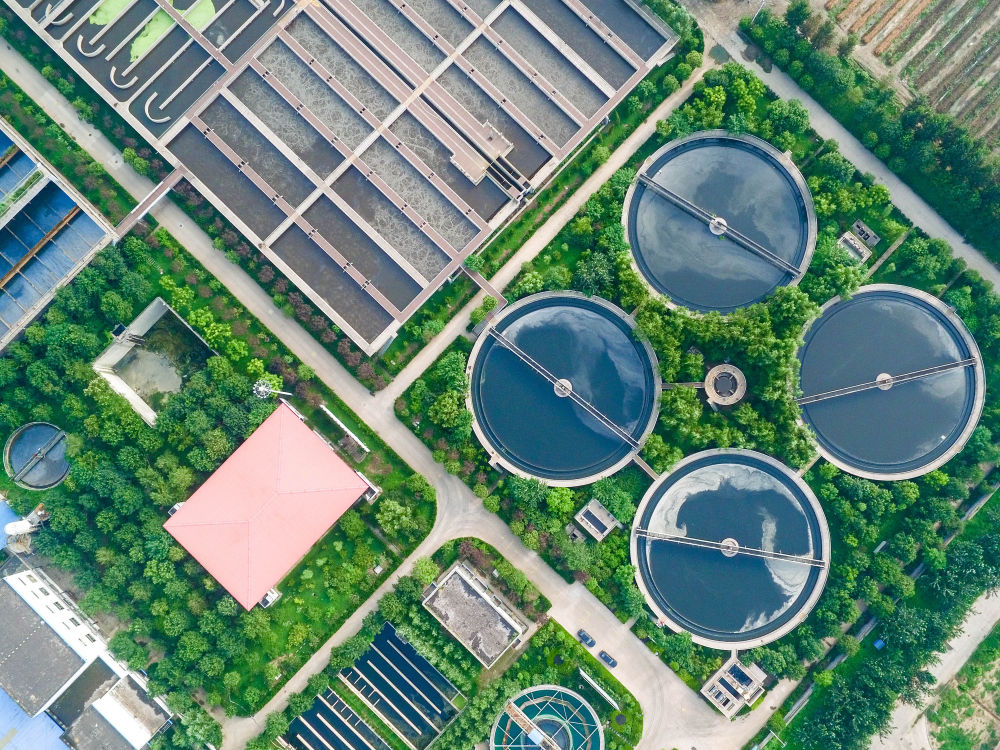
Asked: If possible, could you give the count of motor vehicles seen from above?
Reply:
2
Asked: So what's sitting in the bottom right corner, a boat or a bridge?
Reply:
bridge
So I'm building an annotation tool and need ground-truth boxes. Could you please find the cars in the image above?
[575,627,597,648]
[597,647,619,669]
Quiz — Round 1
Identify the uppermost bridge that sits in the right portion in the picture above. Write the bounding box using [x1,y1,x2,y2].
[637,175,803,275]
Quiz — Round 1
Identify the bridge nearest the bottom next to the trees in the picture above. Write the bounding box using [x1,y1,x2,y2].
[634,528,826,567]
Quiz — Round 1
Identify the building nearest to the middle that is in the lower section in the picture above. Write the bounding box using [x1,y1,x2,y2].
[573,497,624,542]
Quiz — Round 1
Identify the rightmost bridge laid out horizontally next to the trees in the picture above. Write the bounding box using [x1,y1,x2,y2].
[802,358,976,402]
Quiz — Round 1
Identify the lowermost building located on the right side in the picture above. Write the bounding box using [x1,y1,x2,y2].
[699,658,766,720]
